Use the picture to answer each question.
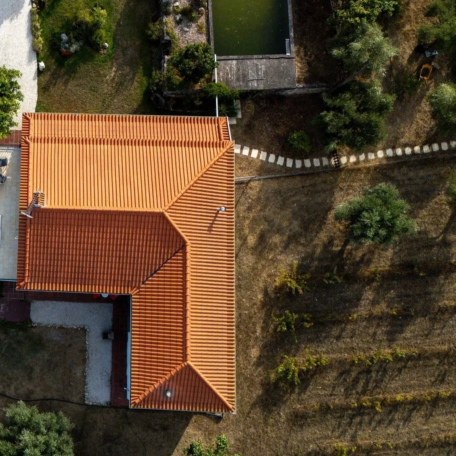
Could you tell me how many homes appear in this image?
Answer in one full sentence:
The picture shows just 1 home.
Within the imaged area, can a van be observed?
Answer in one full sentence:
No, I can't see a single van in this photo.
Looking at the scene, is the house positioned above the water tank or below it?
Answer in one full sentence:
The house is found below the water tank in the photo.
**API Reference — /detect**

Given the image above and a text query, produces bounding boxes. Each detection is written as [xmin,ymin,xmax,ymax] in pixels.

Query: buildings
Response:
[15,111,239,415]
